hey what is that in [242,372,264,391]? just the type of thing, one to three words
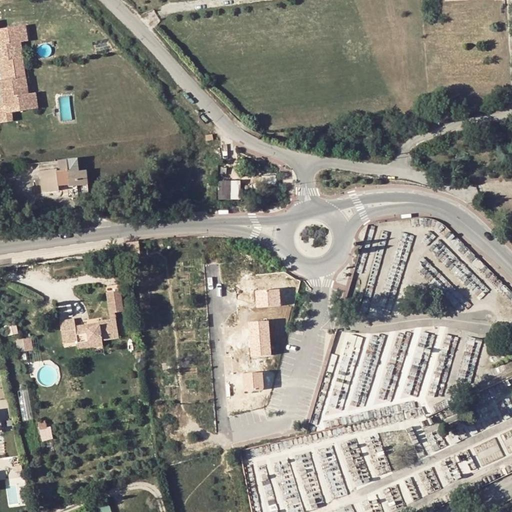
house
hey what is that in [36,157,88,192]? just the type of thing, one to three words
house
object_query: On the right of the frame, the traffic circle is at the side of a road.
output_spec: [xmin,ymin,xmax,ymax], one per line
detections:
[257,194,366,289]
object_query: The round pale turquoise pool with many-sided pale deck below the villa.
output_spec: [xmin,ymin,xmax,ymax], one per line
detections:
[31,360,61,388]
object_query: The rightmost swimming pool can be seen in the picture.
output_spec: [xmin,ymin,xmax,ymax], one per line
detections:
[56,93,77,124]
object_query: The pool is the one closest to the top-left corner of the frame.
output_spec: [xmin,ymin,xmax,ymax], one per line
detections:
[38,44,52,58]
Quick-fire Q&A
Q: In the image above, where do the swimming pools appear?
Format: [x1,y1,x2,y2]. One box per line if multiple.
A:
[31,360,61,388]
[56,93,77,124]
[38,44,52,58]
[7,485,18,505]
